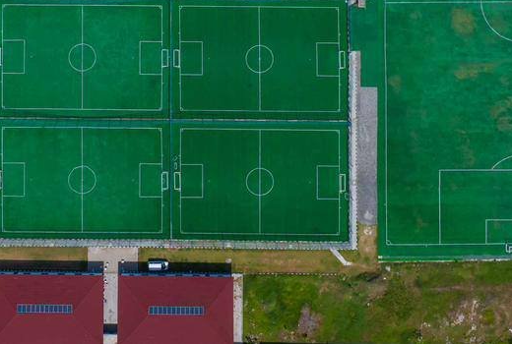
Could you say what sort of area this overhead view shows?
sports ground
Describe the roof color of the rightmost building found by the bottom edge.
red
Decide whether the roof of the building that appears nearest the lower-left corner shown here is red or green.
red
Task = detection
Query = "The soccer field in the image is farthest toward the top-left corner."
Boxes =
[0,0,169,120]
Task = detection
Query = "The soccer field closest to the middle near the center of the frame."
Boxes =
[170,120,348,239]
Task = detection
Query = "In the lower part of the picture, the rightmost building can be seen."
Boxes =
[118,272,233,344]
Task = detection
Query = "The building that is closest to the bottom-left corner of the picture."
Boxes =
[0,271,104,344]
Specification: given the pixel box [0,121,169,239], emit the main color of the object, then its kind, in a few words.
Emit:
green soccer field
